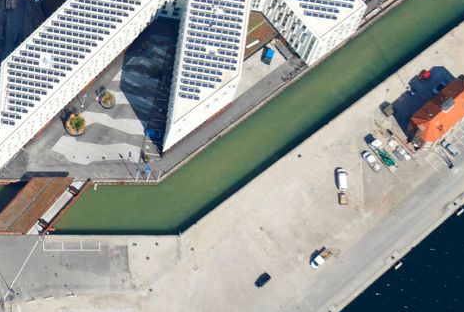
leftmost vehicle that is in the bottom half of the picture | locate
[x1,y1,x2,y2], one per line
[254,272,270,285]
